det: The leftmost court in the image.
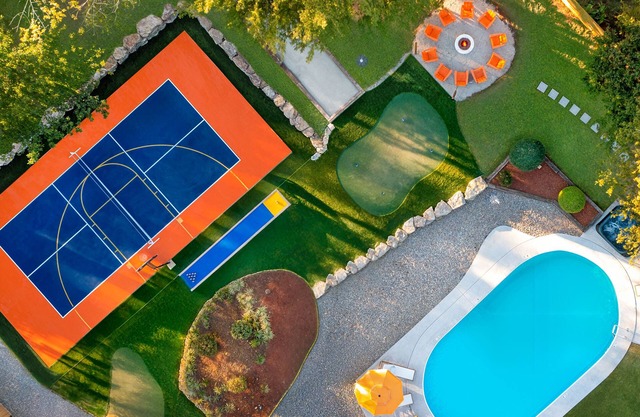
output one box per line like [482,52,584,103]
[0,31,291,366]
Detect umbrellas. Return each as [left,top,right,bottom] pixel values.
[356,367,403,415]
